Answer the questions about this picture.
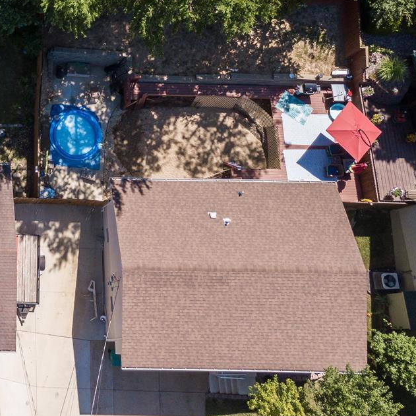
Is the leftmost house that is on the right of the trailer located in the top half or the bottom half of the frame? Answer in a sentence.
Seen from above, the leftmost house that is on the right of the trailer lies in the bottom half of the view.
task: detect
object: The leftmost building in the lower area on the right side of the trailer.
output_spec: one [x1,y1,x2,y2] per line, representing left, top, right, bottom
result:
[100,178,370,374]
